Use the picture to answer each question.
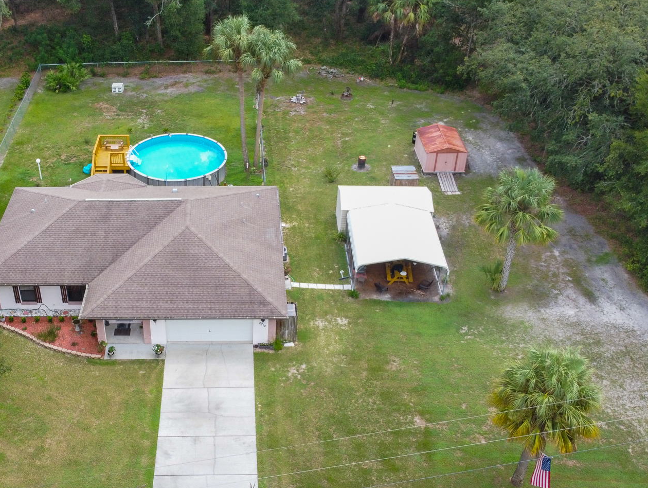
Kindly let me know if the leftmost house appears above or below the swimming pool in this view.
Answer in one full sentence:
Relative to the swimming pool, the leftmost house lies below it.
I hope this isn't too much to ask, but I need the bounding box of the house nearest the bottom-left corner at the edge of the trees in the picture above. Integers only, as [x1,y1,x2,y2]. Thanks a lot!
[0,173,289,342]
